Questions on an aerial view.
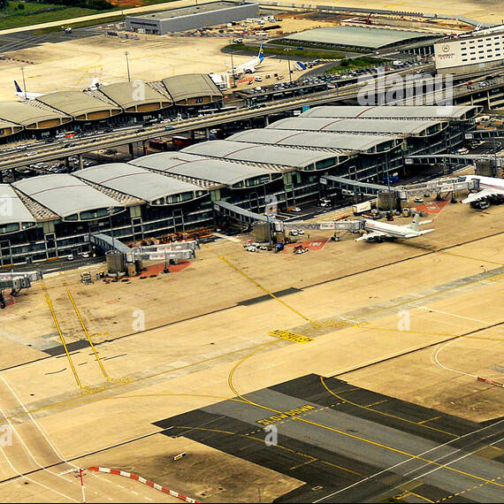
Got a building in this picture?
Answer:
Yes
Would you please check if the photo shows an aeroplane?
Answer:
Yes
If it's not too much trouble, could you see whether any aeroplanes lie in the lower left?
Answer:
No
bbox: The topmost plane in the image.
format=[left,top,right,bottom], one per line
[228,46,282,75]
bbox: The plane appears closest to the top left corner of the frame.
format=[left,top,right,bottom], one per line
[10,82,39,101]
